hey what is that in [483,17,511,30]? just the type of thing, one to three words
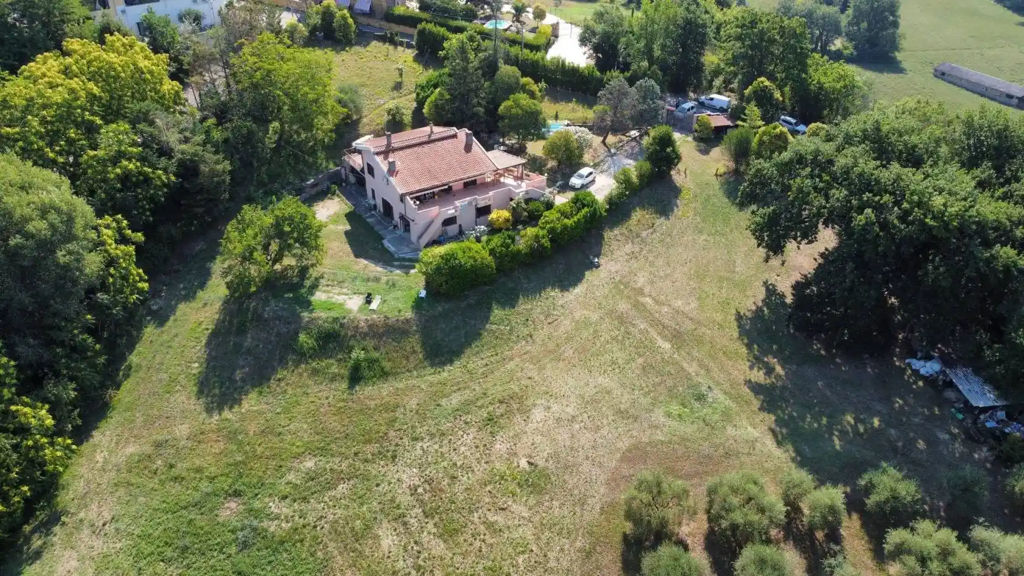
swimming pool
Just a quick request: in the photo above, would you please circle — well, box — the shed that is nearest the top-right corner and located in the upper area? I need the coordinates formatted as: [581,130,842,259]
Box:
[935,60,1024,111]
